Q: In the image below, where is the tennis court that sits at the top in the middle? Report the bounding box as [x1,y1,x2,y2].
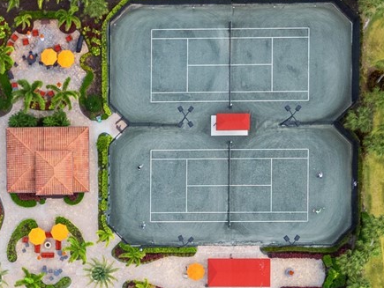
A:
[111,3,352,124]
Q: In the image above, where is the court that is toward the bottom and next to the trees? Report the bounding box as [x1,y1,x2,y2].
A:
[111,123,352,244]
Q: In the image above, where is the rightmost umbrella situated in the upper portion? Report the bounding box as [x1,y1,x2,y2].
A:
[58,51,73,67]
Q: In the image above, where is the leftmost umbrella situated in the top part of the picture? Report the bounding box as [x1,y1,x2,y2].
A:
[42,49,57,65]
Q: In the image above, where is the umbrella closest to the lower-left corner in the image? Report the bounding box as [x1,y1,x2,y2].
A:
[29,229,45,245]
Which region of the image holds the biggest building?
left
